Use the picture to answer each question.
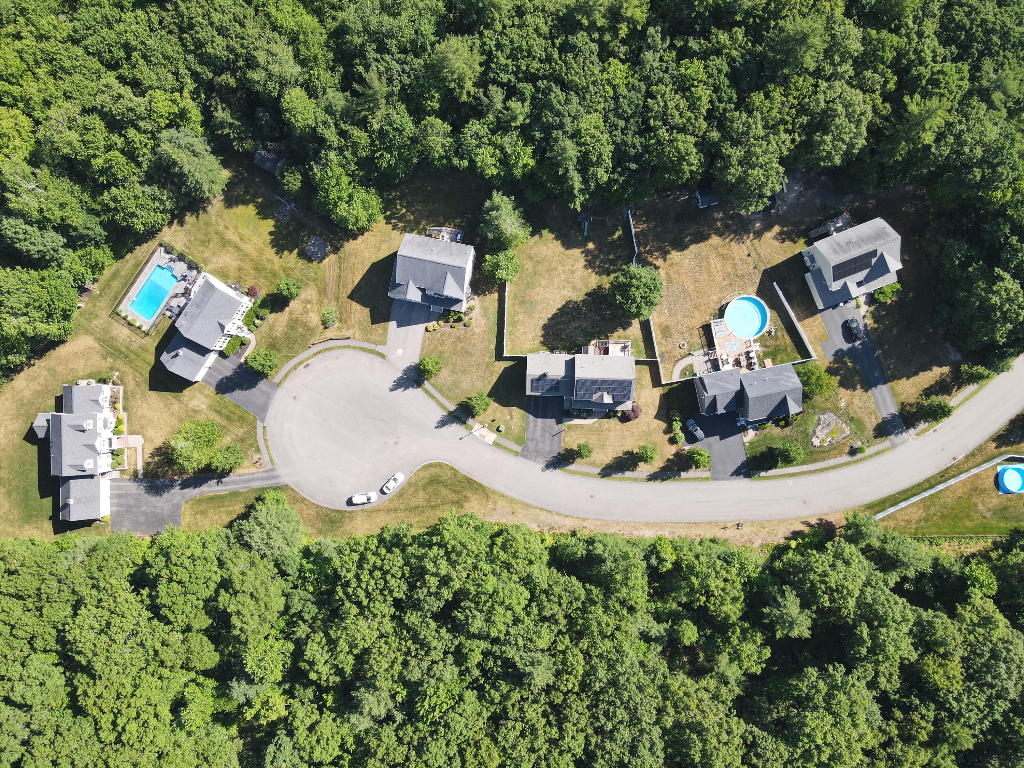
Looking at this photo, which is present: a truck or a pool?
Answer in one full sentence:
It is a pool that can be seen here.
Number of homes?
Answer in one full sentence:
I count 6 homes.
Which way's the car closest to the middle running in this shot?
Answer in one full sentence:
The car closest to the middle runs on a diagonal in the image.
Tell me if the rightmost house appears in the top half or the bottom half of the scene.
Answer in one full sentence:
It is in the top half that the rightmost house appears.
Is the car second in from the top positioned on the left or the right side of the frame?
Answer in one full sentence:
The car second in from the top sits on the right side.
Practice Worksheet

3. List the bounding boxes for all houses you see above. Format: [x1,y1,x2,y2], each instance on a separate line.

[802,217,903,309]
[695,364,803,426]
[159,271,253,381]
[388,233,472,314]
[32,386,124,521]
[525,353,636,412]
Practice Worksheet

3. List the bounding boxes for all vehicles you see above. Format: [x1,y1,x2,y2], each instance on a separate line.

[352,491,378,504]
[383,471,405,494]
[685,417,705,443]
[847,317,866,341]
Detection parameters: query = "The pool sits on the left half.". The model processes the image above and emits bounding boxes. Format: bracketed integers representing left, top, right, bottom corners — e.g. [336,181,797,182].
[128,264,178,324]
